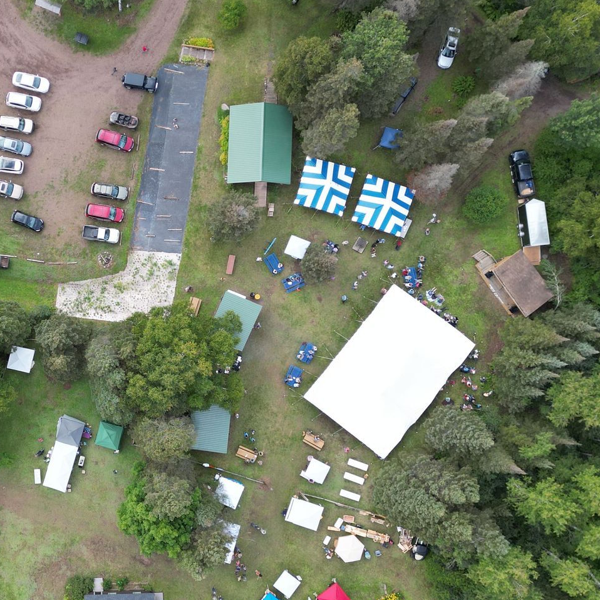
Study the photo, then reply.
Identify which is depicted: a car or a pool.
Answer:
car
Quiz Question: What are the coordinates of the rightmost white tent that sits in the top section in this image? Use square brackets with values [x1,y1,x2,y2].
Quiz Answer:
[342,175,414,242]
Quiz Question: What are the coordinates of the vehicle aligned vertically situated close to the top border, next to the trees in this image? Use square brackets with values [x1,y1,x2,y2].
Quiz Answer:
[434,26,460,70]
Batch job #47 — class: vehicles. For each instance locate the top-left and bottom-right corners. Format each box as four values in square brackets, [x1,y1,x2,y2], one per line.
[0,256,8,268]
[5,90,42,113]
[90,181,128,201]
[434,26,460,70]
[0,115,34,135]
[85,203,124,223]
[0,180,23,200]
[94,128,135,151]
[0,136,33,156]
[80,224,121,244]
[9,209,45,232]
[510,149,534,200]
[122,73,156,92]
[12,72,50,94]
[0,155,25,175]
[112,113,137,128]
